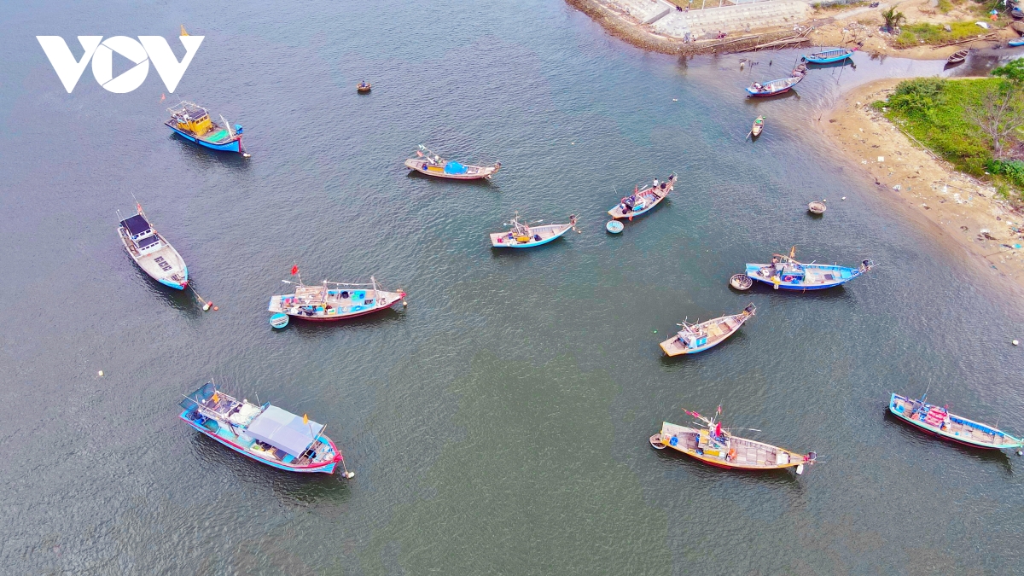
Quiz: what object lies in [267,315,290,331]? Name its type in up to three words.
boat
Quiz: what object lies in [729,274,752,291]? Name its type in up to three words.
boat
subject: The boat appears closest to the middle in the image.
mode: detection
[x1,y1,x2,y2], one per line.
[490,209,584,252]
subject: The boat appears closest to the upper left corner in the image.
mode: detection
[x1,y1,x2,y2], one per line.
[160,95,247,153]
